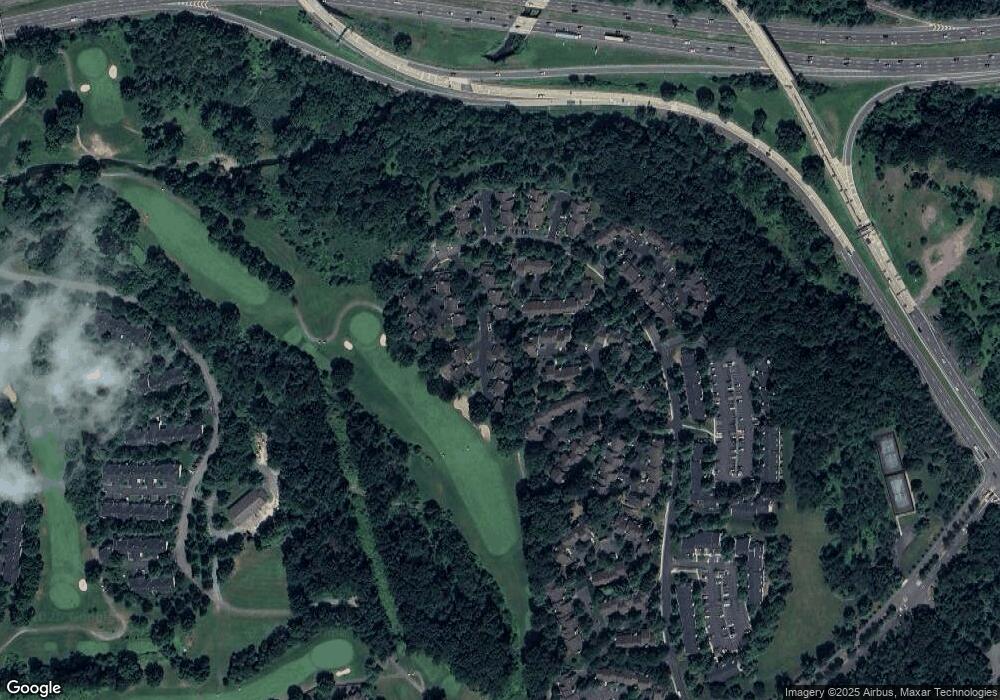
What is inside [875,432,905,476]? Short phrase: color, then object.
gray tennis court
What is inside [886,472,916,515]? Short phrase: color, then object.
gray tennis court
